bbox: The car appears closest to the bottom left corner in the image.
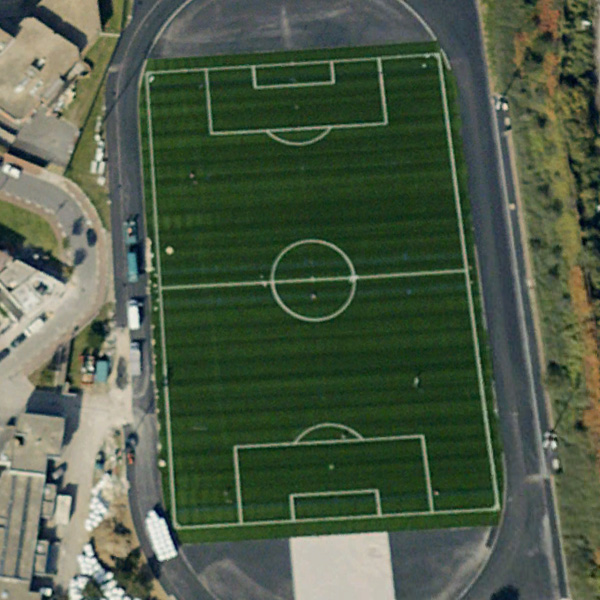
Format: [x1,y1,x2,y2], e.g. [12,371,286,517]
[50,464,64,479]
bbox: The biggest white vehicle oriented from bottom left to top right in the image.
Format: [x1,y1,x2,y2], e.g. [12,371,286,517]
[24,313,47,335]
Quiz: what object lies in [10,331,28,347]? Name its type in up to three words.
car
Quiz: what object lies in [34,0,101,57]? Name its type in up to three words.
building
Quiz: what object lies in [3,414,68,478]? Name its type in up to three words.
building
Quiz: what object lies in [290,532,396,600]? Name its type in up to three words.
sports court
